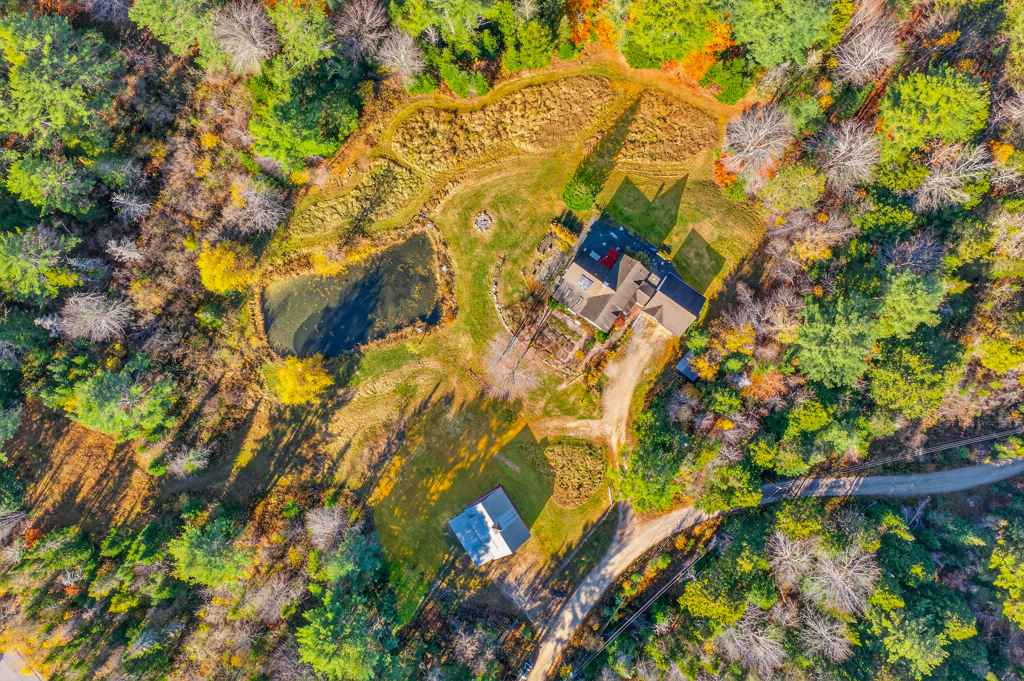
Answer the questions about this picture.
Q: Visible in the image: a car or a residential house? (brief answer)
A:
residential house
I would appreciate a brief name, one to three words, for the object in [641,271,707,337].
building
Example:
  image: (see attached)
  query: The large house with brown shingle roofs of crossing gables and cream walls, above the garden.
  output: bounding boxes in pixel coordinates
[551,250,655,333]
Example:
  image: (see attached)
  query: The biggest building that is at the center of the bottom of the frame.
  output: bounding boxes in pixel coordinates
[448,483,531,567]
